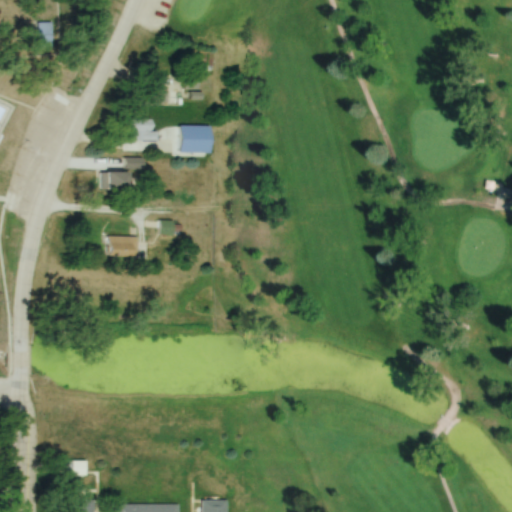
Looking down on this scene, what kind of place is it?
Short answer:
golf course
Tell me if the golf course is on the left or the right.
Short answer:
right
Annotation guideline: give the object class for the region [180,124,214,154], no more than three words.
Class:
barn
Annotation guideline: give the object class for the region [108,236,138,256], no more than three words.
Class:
house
